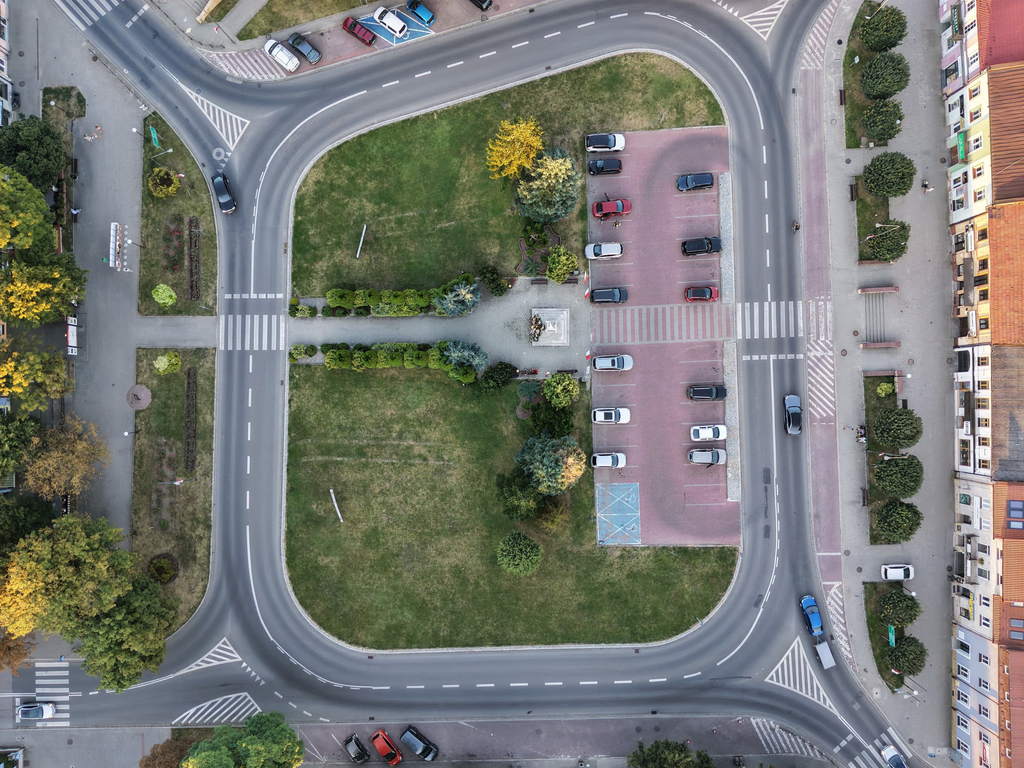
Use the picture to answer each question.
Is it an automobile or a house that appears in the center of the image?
automobile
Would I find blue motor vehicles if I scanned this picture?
Yes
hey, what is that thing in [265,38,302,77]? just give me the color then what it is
white van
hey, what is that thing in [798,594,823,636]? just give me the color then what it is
blue car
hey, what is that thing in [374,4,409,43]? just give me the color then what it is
white car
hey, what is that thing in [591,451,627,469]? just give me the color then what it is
white car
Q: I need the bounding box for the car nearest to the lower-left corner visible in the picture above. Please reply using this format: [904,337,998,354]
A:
[17,700,58,721]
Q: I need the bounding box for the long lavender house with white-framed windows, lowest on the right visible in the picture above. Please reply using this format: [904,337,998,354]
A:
[947,614,1024,768]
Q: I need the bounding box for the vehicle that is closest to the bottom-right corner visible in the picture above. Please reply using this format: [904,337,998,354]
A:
[878,740,907,768]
